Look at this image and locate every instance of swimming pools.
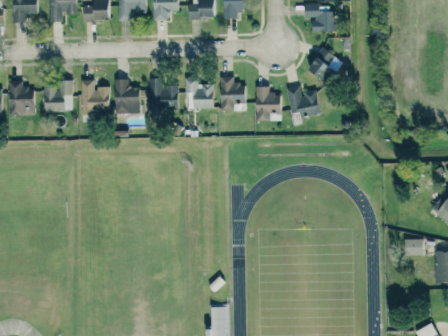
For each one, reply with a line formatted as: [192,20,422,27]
[56,116,67,128]
[128,118,145,128]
